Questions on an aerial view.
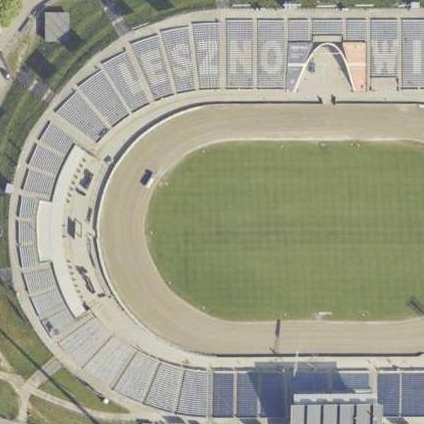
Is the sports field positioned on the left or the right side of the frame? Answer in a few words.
right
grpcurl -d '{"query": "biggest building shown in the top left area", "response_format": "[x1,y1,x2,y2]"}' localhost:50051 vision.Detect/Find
[45,13,69,43]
